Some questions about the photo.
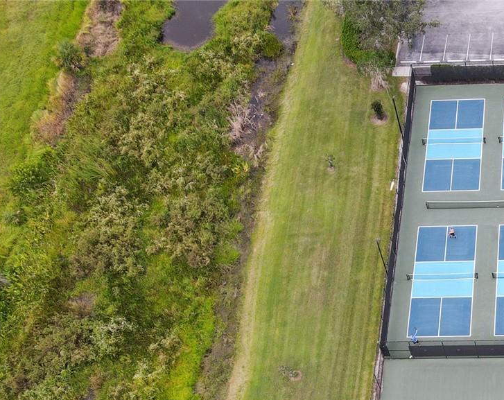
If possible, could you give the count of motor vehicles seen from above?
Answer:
none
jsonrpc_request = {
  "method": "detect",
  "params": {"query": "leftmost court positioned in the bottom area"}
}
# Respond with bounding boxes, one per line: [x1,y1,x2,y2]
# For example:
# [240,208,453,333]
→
[406,224,478,337]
